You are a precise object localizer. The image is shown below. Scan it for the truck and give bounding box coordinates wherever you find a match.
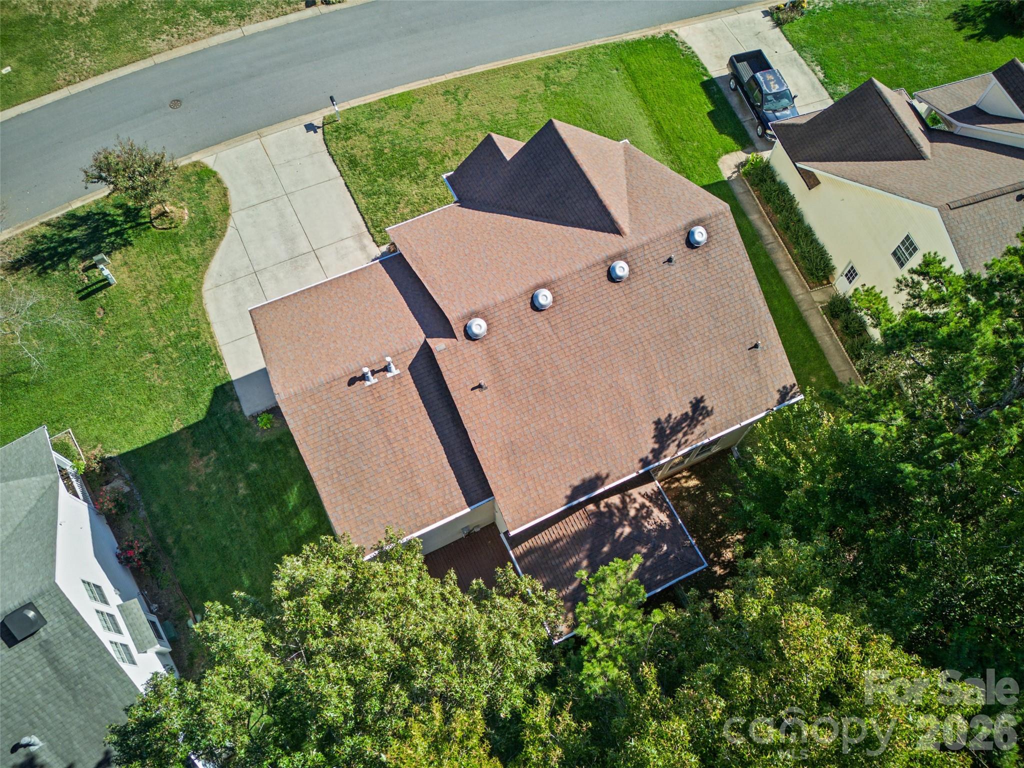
[724,65,789,143]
